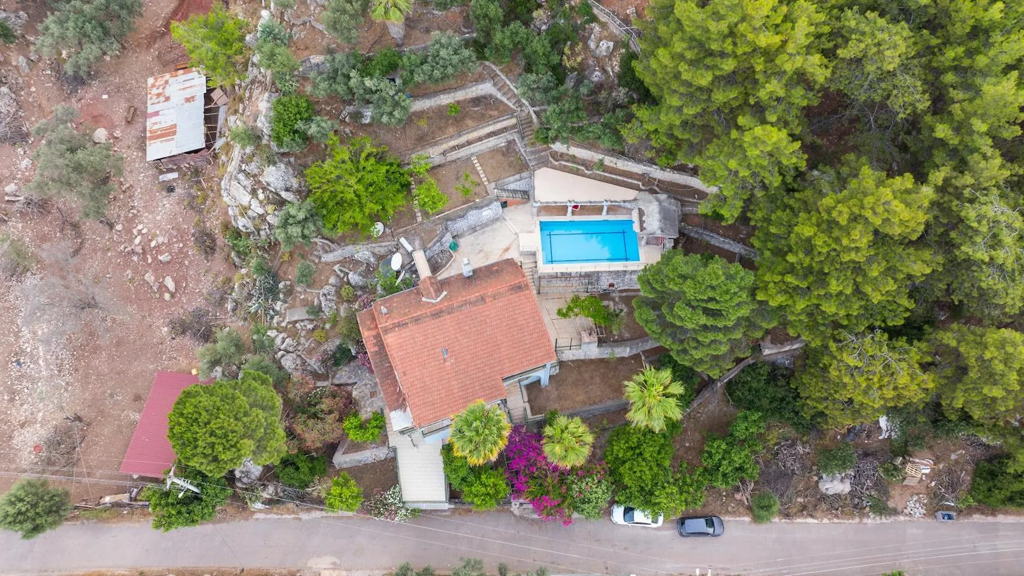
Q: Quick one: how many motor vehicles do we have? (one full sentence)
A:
In total, there are 2 motor vehicles in the scene.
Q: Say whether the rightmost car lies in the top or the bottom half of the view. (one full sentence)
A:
It is in the bottom half that the rightmost car appears.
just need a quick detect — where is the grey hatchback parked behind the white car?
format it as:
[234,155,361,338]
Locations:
[676,514,724,538]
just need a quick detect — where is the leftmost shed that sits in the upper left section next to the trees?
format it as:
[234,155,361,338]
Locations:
[146,69,226,179]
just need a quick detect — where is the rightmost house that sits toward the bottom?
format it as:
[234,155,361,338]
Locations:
[359,257,555,450]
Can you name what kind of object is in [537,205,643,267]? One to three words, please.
swimming pool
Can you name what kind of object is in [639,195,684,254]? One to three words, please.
shed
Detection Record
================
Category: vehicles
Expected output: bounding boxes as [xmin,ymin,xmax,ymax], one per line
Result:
[611,503,662,528]
[676,514,724,538]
